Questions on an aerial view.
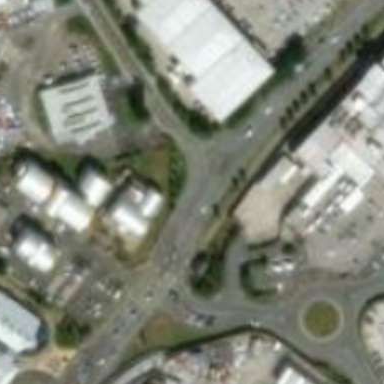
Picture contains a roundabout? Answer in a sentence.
Yes, there's a roundabout here.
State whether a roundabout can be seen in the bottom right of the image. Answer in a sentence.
Yes, the scene does show a roundabout in the bottom right of the image.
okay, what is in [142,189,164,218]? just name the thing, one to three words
building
